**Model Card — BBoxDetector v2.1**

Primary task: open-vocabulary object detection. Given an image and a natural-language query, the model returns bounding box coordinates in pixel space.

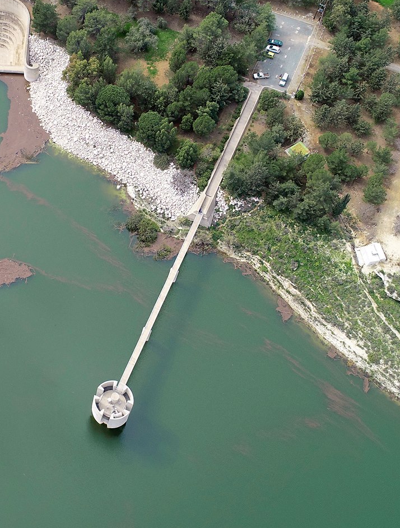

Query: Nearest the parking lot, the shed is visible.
[285,141,310,165]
